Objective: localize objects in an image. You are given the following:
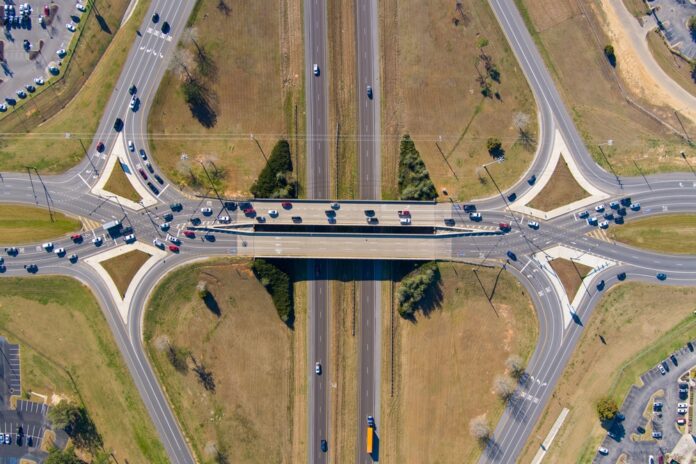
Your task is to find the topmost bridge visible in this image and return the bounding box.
[214,198,453,227]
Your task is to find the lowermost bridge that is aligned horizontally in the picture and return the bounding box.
[237,231,453,260]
